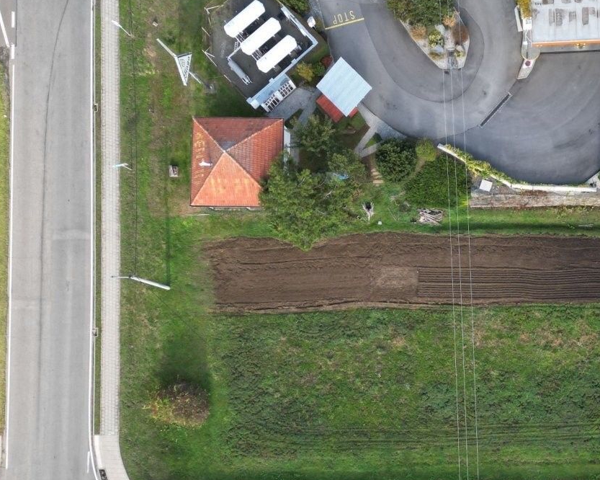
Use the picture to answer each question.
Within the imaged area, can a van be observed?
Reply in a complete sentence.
No, there appears to be no van in this shot.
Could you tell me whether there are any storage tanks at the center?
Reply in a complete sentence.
No, there is no storage tank at the center.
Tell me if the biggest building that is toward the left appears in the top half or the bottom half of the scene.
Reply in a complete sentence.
Seen from above, the biggest building that is toward the left lies in the top half of the view.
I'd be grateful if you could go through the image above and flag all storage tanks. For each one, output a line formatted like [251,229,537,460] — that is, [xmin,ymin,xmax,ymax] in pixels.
[223,1,267,36]
[256,36,299,69]
[240,19,284,52]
